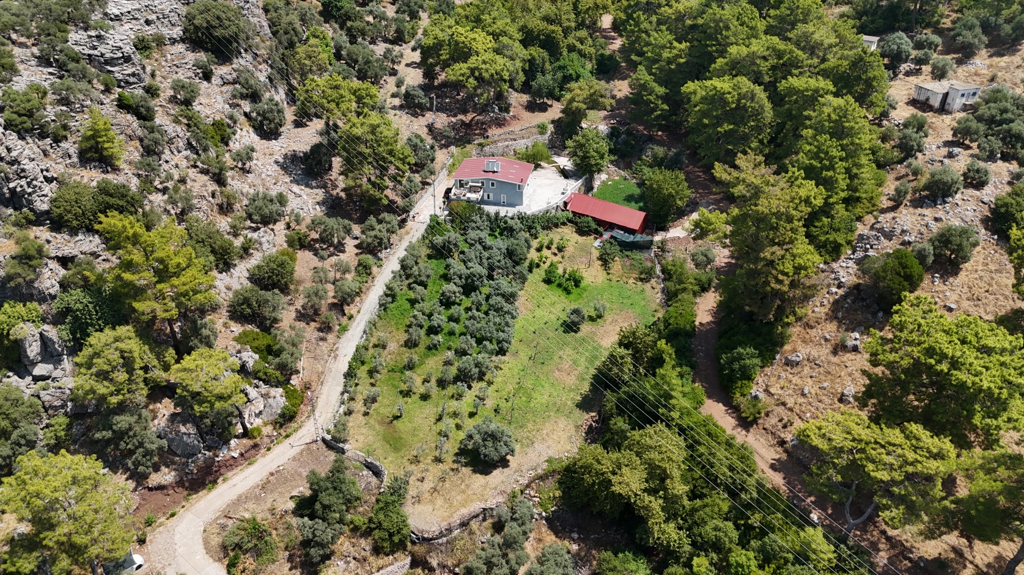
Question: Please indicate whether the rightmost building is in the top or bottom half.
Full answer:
You can find the rightmost building in the top half.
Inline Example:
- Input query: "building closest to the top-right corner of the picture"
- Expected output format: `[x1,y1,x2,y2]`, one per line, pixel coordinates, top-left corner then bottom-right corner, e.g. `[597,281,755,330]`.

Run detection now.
[910,81,981,117]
